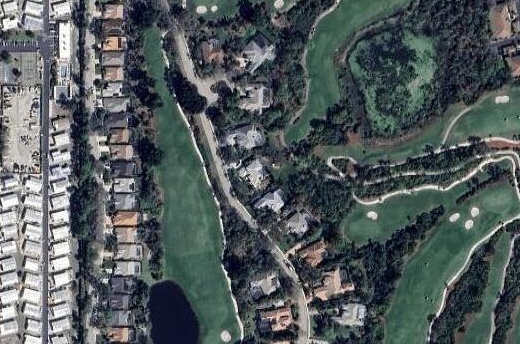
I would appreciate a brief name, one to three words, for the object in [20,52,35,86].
sports court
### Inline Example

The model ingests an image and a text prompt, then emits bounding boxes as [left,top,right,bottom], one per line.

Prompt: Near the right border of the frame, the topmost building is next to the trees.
[490,5,511,38]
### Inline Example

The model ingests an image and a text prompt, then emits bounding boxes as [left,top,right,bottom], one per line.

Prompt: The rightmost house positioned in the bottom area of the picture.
[337,304,369,329]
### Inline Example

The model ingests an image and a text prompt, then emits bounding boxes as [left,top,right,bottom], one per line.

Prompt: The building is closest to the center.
[243,153,278,191]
